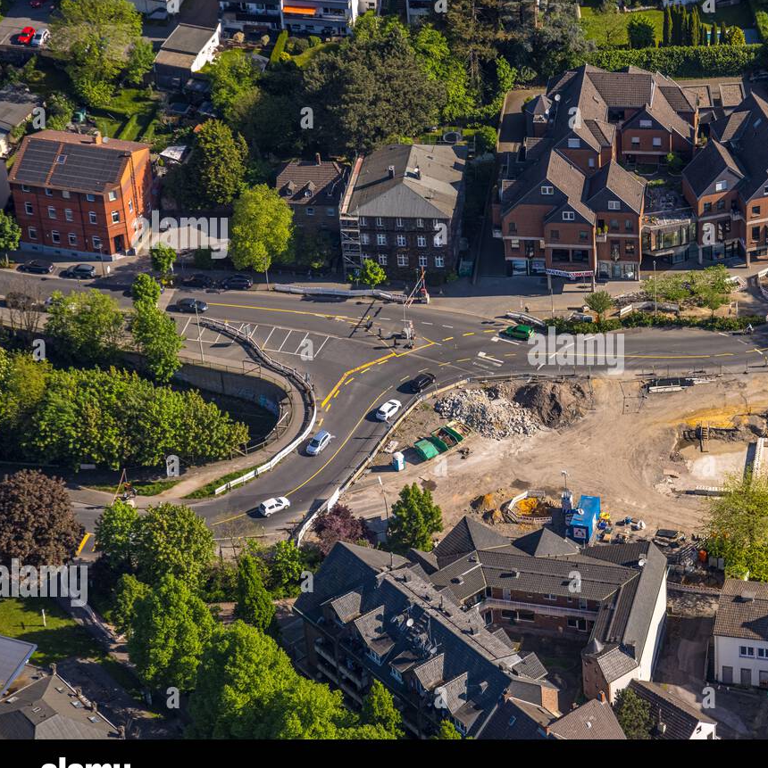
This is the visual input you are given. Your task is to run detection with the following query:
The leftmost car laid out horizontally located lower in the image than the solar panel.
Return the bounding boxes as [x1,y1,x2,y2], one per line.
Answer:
[19,258,53,273]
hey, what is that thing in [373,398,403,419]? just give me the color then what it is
white car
